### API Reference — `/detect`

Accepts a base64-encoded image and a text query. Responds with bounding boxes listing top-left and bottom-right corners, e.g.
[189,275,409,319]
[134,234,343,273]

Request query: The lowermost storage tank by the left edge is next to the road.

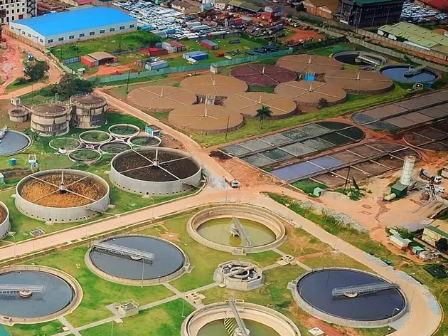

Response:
[0,265,82,332]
